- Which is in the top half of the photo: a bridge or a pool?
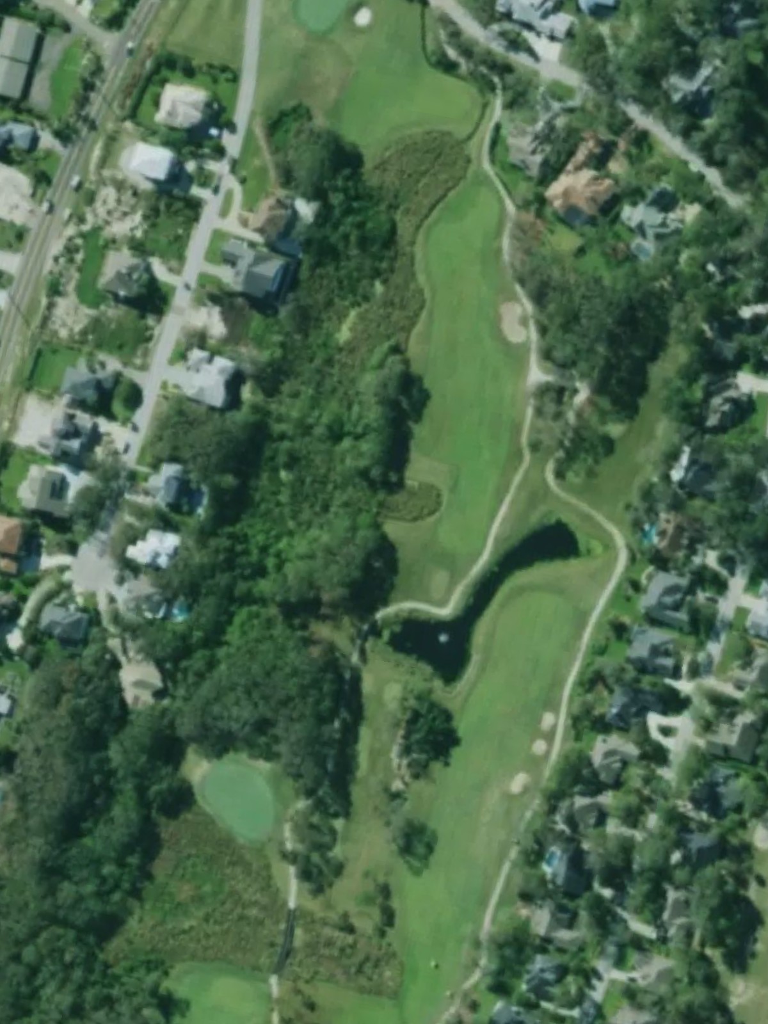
pool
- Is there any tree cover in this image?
Yes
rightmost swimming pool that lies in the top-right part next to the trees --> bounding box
[631,238,655,263]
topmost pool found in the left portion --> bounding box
[190,485,208,517]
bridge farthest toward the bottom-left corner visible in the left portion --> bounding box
[271,904,295,978]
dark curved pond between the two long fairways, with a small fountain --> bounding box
[389,519,580,684]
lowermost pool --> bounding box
[543,845,562,877]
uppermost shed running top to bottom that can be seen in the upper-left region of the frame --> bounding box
[0,19,35,97]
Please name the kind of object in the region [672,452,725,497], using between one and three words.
house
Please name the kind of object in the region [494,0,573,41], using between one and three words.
house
